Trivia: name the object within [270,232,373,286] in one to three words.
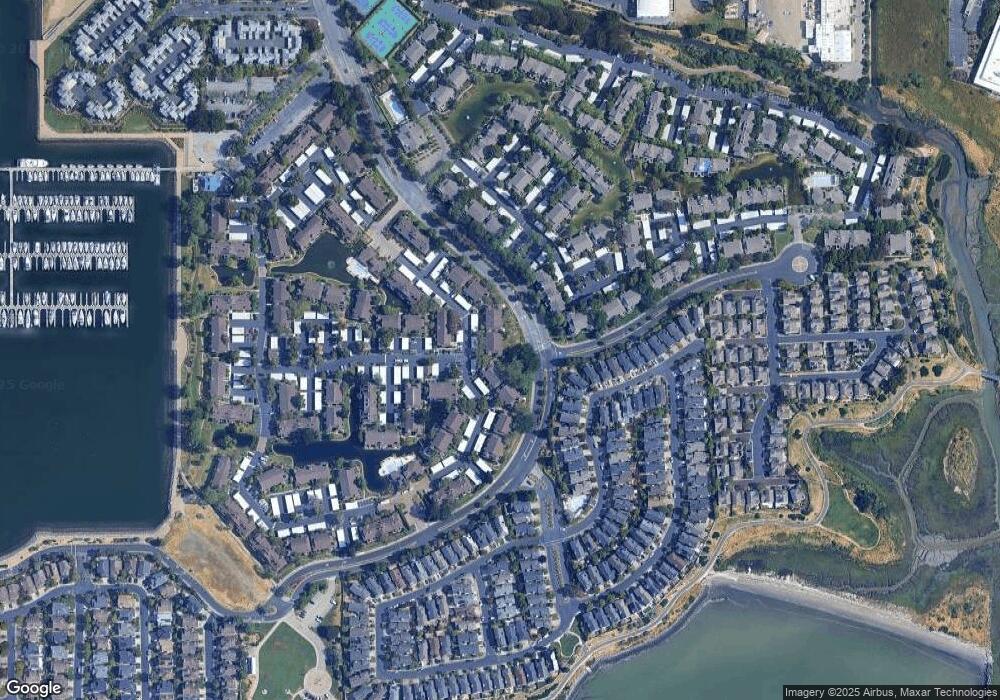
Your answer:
pond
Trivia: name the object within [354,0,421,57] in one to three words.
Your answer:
sports court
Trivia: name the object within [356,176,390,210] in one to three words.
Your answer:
building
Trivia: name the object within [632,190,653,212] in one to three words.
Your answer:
building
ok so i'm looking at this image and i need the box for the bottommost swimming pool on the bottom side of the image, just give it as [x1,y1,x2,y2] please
[563,495,588,519]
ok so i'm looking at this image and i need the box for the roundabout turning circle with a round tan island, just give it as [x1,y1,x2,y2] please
[779,244,819,284]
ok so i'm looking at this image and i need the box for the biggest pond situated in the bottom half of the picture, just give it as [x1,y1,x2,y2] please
[271,418,402,495]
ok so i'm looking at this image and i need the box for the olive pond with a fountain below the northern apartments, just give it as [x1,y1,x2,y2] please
[451,81,541,143]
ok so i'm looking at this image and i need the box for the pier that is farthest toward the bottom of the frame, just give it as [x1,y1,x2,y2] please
[0,294,128,326]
